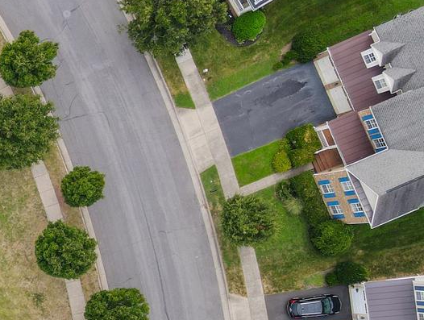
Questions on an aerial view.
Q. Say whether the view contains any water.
No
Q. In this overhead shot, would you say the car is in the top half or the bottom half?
bottom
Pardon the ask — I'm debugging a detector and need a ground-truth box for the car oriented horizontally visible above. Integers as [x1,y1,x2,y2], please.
[283,294,339,320]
